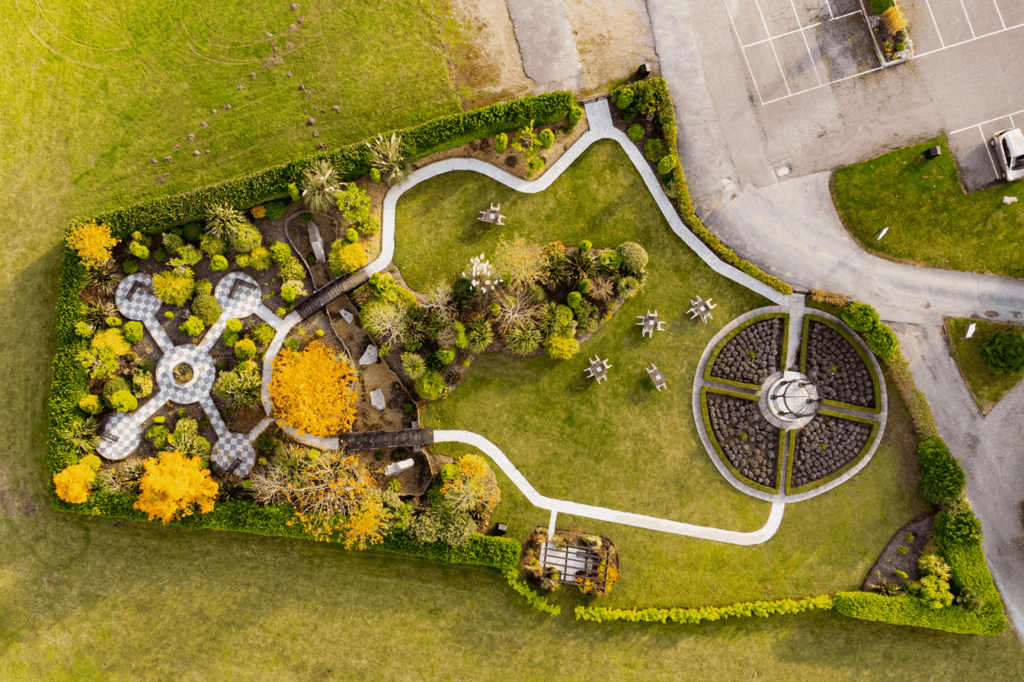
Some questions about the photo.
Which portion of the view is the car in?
top right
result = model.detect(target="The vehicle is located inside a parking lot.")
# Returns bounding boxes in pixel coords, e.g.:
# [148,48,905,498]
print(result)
[989,127,1024,180]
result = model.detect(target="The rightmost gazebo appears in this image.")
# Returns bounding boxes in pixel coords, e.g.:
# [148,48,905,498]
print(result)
[761,369,825,430]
